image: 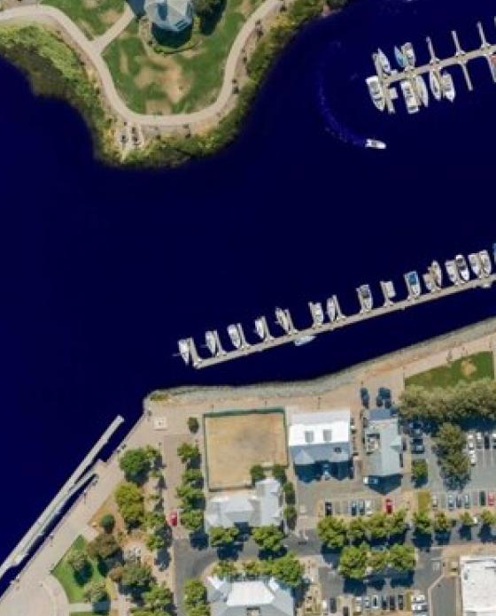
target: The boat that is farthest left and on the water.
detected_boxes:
[170,337,189,364]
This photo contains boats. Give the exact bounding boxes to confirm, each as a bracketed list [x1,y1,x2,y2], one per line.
[376,47,392,76]
[384,280,394,296]
[415,76,428,106]
[170,337,189,364]
[443,258,457,282]
[294,335,315,344]
[325,296,335,320]
[274,306,288,332]
[479,250,491,277]
[399,80,415,112]
[199,330,217,357]
[394,46,408,68]
[433,260,442,287]
[422,272,433,289]
[364,139,386,148]
[390,88,398,99]
[366,78,384,109]
[405,43,415,68]
[454,253,469,281]
[358,282,371,311]
[224,323,240,348]
[252,318,265,339]
[406,269,421,297]
[311,300,324,328]
[439,69,454,102]
[466,252,479,277]
[430,69,440,101]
